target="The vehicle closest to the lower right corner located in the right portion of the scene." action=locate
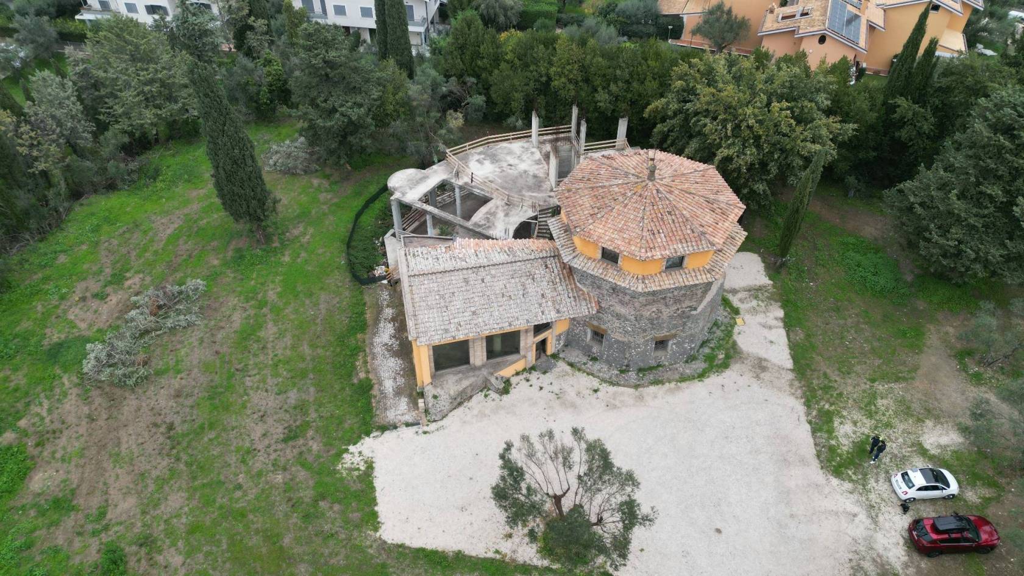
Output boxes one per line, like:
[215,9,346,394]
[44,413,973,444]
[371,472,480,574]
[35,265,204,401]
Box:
[904,507,1002,557]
